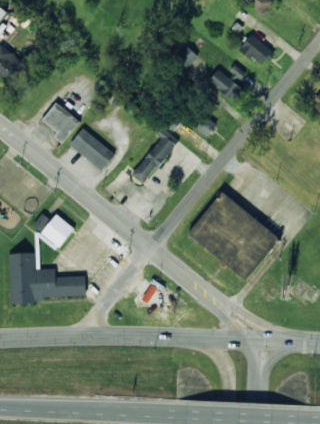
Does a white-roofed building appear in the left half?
Yes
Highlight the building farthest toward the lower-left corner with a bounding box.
[10,253,88,306]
